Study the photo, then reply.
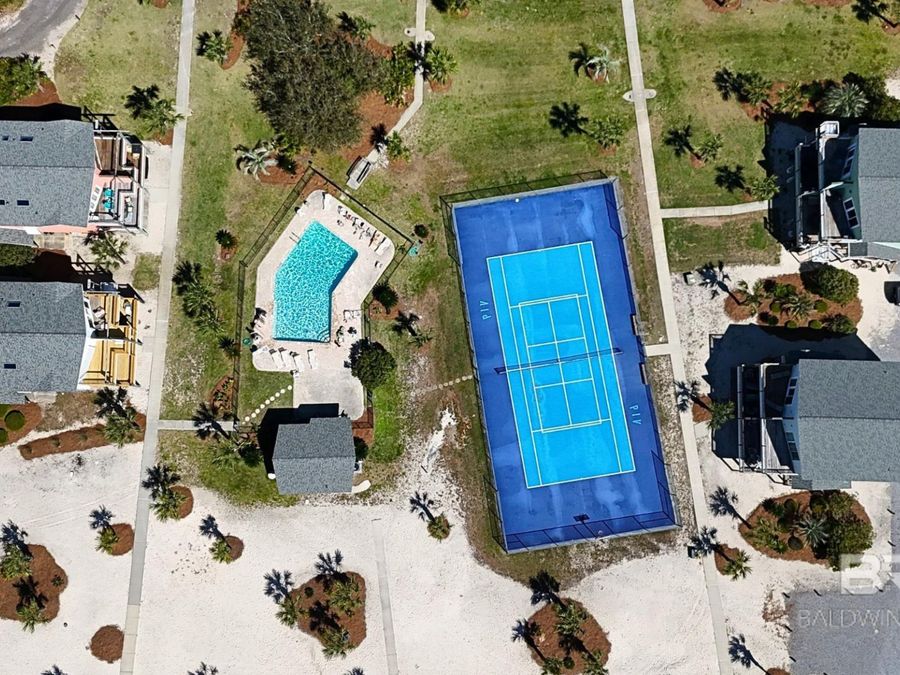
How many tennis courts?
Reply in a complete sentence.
The picture shows just 1 tennis court.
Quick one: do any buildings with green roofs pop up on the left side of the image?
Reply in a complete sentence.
No, no building with a green roof appears on the left side of the image.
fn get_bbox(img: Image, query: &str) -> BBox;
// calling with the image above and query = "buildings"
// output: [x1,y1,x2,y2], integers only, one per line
[735,359,900,493]
[0,282,140,405]
[272,417,358,494]
[0,122,150,252]
[791,120,900,268]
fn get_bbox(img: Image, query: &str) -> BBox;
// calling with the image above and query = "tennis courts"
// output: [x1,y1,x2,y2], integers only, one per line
[453,181,679,553]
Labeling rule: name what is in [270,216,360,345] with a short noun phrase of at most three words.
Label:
swimming pool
